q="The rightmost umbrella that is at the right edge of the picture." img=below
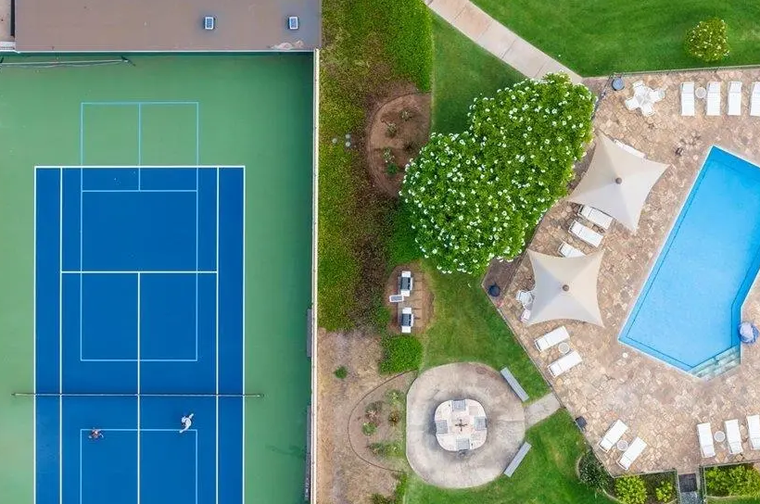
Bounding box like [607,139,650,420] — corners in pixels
[736,320,758,342]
